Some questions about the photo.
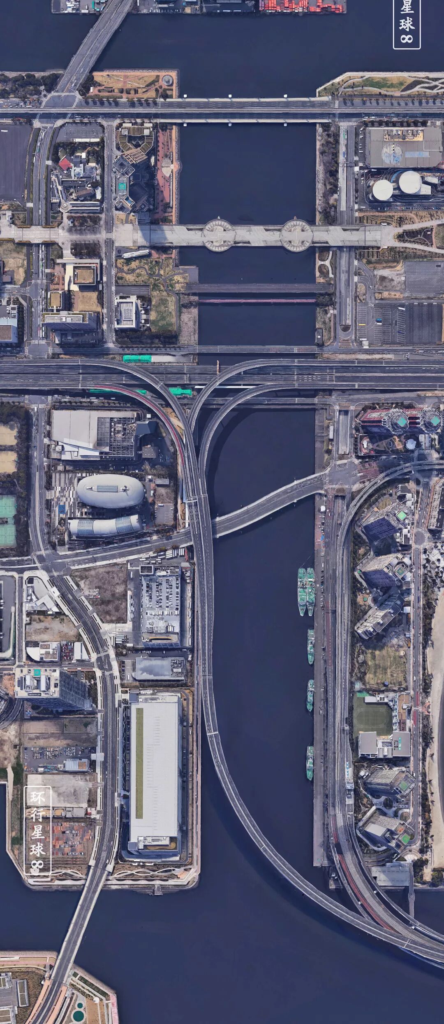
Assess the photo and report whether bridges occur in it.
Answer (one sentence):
Yes, you can see a bridge in this photo.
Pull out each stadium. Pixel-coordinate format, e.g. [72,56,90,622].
[77,475,146,509]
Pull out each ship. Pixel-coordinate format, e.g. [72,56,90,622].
[307,679,314,712]
[306,745,313,780]
[308,629,314,664]
[306,568,315,616]
[298,568,306,616]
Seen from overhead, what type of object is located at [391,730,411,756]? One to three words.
building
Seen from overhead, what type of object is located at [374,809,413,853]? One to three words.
building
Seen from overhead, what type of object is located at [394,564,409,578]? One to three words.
helipad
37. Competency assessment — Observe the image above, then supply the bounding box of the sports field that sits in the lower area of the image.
[353,693,392,737]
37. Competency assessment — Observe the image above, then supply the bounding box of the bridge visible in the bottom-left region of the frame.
[50,862,109,982]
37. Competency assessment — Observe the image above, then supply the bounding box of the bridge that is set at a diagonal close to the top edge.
[59,0,132,97]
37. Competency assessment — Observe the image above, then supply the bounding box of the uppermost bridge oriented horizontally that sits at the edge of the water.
[164,98,332,122]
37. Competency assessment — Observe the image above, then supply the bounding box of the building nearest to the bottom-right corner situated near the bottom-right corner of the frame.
[370,863,410,886]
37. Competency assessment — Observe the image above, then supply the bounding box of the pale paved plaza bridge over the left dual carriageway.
[14,223,58,243]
